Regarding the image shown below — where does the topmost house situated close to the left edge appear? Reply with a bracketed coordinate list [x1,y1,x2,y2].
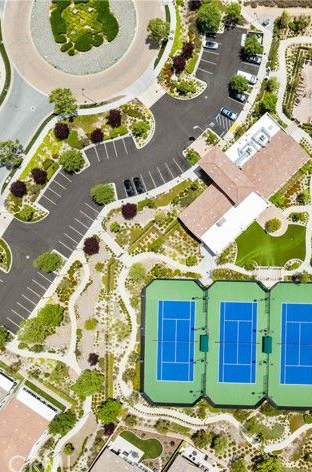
[0,366,22,414]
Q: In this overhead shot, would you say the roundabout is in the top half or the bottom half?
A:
top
